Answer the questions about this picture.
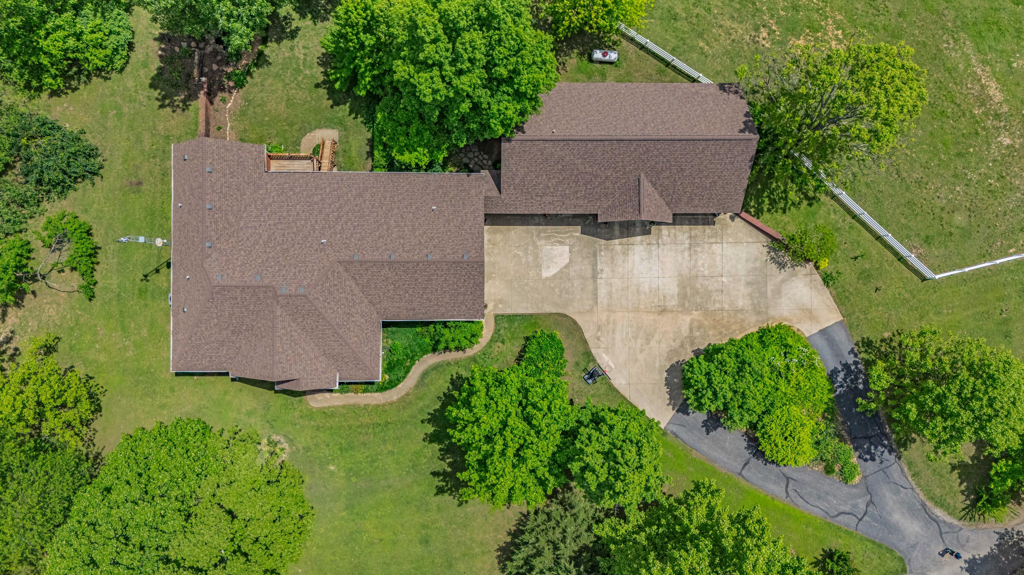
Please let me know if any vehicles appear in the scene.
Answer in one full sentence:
No, I can't see a single vehicle in this photo.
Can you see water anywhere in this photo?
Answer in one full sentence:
No, the scene doesn't show any water.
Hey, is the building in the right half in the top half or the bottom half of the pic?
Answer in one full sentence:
The building in the right half sits in the top half of the picture.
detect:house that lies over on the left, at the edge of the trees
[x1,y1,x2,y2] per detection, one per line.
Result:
[169,137,485,392]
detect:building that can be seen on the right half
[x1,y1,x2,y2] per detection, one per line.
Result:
[481,82,760,222]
